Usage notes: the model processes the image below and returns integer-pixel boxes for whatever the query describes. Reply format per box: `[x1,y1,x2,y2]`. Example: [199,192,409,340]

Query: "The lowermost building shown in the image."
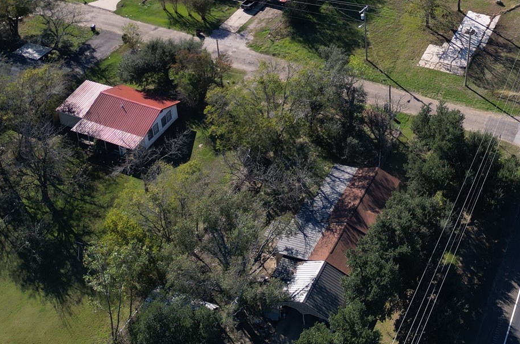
[282,248,351,322]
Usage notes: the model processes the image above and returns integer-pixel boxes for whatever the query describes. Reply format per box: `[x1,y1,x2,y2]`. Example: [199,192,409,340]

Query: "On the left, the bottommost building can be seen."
[58,83,178,169]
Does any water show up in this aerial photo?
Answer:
No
